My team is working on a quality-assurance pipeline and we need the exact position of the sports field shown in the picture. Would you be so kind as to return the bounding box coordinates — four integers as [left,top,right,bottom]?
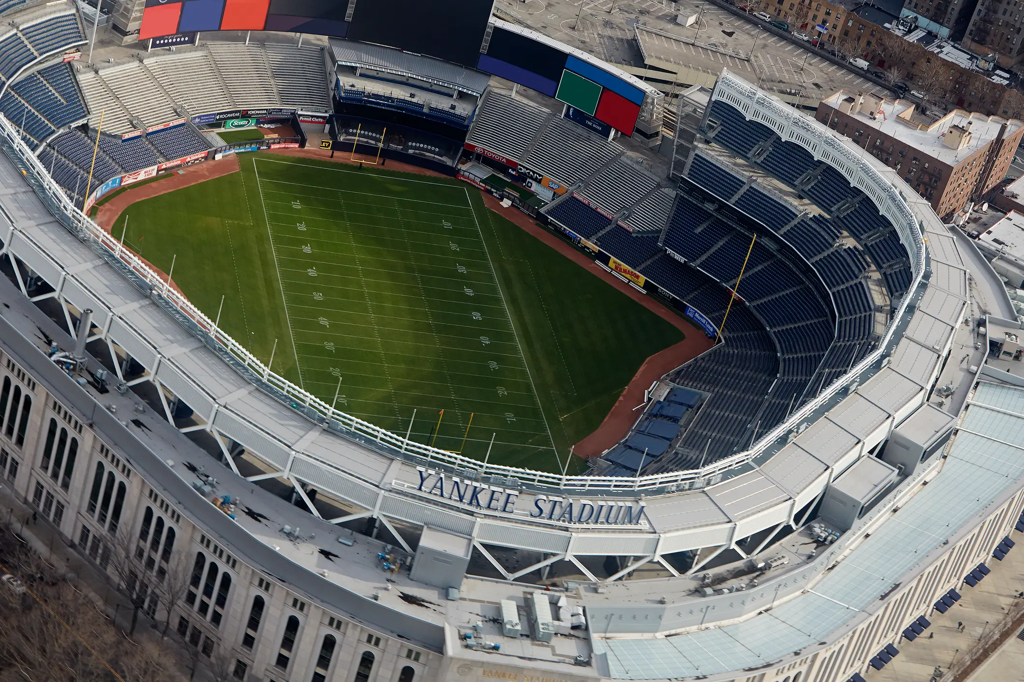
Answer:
[111,151,684,487]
